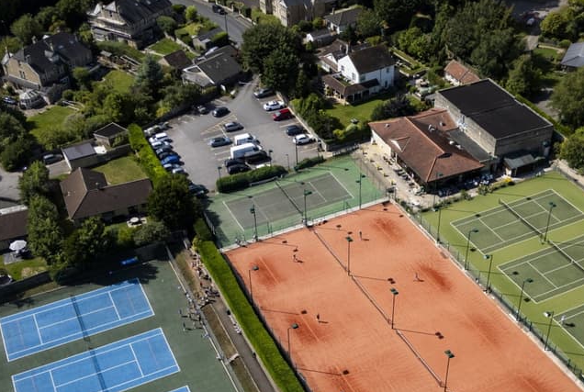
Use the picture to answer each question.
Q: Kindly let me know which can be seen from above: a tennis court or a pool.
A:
tennis court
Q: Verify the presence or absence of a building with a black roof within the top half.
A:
Yes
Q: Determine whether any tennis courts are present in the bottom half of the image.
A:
Yes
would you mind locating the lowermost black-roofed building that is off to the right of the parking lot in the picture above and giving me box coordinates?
[438,79,553,179]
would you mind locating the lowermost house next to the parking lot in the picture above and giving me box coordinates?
[60,166,154,226]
